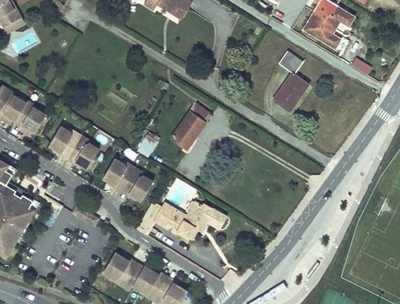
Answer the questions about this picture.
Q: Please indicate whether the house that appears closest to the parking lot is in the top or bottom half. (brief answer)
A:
bottom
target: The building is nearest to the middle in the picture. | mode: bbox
[172,102,212,153]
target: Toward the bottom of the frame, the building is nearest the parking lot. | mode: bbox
[102,253,130,283]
